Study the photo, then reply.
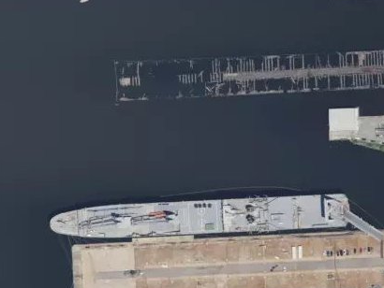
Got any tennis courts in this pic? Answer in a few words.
No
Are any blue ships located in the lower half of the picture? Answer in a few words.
No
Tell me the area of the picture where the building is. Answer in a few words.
right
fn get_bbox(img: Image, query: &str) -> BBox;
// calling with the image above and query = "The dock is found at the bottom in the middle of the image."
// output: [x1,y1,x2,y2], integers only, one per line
[74,230,384,288]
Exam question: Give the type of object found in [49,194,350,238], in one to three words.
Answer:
ship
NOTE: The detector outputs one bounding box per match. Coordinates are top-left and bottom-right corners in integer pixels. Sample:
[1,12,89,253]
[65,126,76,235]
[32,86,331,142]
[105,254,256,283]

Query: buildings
[329,108,362,133]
